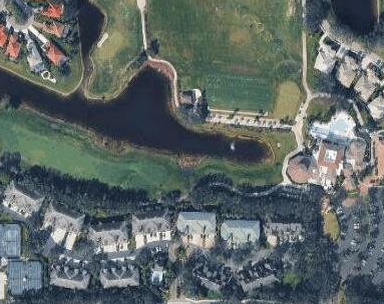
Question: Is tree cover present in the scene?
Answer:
Yes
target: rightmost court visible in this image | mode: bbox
[25,261,42,295]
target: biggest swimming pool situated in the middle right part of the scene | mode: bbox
[311,117,349,141]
